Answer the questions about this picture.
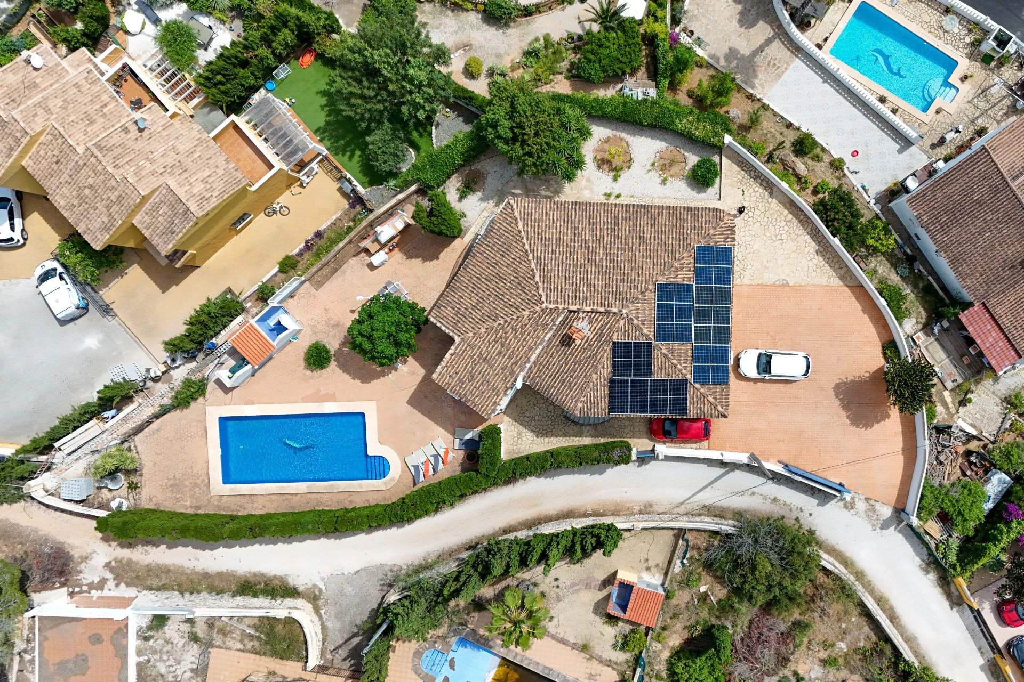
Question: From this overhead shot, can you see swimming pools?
Yes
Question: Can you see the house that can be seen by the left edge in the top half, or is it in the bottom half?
top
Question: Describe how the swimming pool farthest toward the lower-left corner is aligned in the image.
from left to right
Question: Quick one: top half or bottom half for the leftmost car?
top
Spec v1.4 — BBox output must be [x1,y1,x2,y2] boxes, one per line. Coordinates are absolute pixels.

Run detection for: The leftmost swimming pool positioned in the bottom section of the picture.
[207,401,401,496]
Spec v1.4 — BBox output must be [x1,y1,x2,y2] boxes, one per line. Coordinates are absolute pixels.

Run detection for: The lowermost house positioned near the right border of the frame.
[877,112,1024,375]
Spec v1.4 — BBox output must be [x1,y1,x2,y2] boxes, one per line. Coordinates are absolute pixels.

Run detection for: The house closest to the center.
[427,195,736,423]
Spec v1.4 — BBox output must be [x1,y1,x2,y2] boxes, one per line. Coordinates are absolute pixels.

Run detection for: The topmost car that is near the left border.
[0,185,31,253]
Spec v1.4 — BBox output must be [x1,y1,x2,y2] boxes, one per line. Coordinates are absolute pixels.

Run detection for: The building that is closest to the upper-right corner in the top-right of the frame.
[964,27,1016,69]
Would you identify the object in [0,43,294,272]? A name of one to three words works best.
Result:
house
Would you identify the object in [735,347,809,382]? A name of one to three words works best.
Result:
car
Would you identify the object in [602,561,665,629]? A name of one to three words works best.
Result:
shed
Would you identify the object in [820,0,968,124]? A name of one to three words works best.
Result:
swimming pool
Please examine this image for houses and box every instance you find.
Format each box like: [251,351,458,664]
[427,195,736,423]
[877,112,1024,375]
[0,43,294,272]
